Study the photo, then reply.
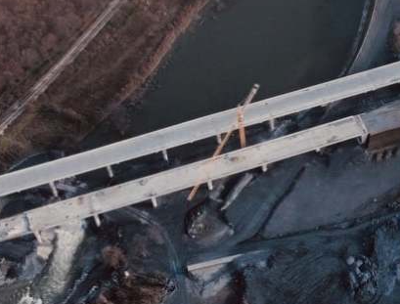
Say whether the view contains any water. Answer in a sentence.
Yes, the picture does contain water.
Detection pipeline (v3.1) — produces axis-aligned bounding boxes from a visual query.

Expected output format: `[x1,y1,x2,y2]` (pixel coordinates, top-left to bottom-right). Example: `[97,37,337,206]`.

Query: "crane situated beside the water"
[187,79,251,197]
